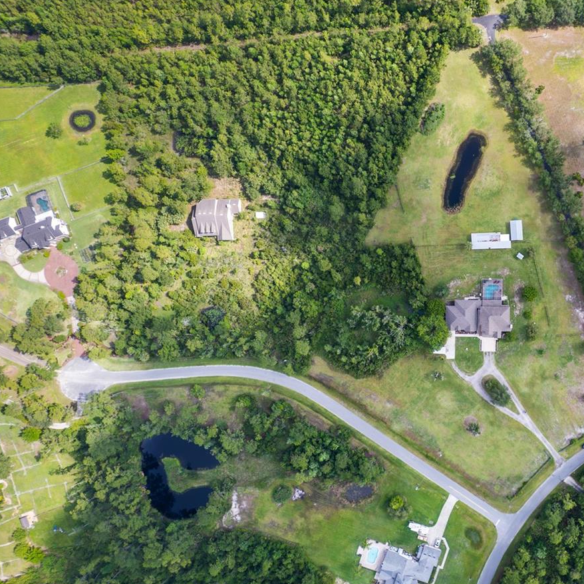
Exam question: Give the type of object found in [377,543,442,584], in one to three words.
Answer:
house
